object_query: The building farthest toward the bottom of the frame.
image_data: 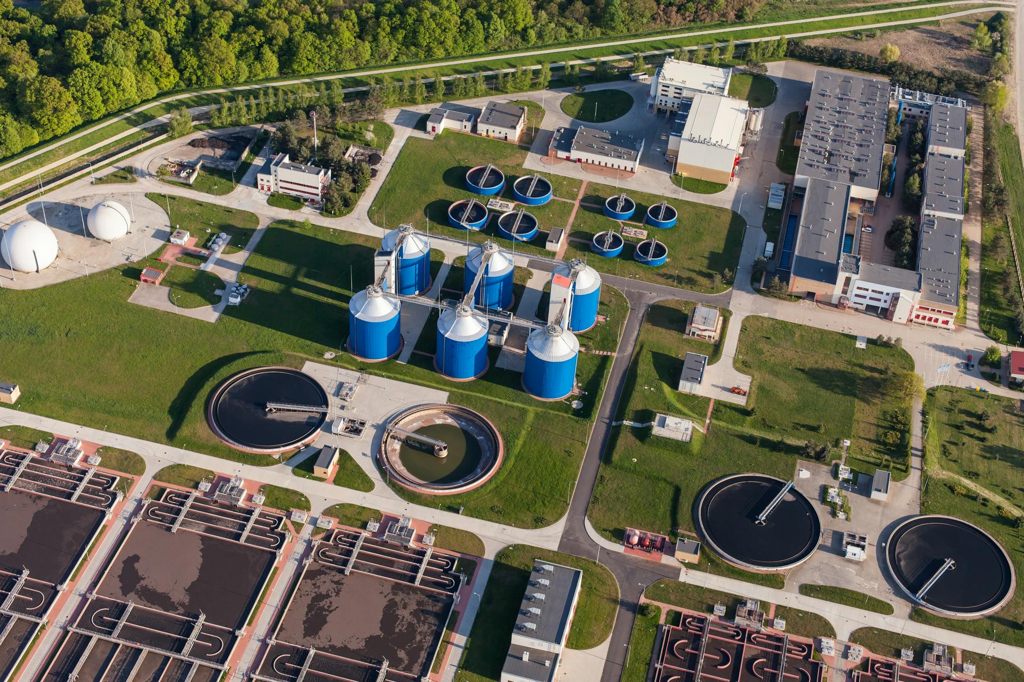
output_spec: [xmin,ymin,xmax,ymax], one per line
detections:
[501,559,583,682]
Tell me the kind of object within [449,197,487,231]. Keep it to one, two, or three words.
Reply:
storage tank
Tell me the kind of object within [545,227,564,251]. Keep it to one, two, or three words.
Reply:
shed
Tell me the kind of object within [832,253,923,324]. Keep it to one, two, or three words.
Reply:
building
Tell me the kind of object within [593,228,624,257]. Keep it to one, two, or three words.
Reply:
storage tank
